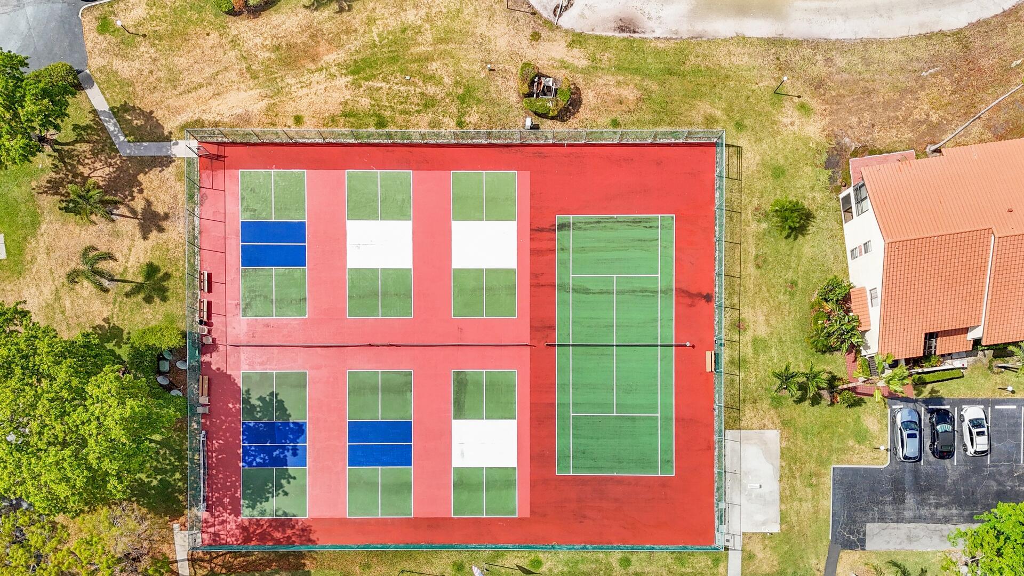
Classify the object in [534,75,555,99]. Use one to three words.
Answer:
building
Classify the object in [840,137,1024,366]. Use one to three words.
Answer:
house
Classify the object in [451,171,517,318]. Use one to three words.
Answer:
sports court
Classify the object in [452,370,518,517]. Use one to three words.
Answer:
sports court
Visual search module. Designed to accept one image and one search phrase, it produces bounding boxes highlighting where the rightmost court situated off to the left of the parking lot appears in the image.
[556,214,675,476]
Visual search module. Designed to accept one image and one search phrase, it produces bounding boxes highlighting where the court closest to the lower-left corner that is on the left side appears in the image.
[241,371,308,518]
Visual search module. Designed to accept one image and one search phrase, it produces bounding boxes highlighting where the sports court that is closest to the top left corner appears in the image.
[239,170,307,318]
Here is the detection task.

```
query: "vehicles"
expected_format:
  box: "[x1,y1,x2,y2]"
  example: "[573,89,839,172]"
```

[963,406,993,457]
[894,408,922,463]
[931,410,958,458]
